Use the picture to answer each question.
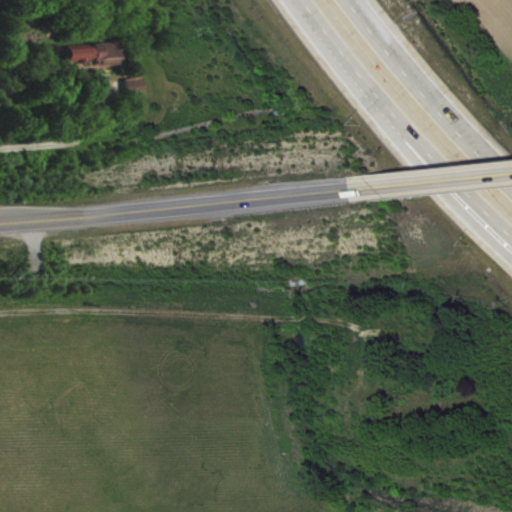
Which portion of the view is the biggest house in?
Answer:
top left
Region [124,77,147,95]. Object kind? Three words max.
building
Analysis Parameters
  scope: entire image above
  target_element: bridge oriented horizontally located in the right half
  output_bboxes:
[348,161,512,202]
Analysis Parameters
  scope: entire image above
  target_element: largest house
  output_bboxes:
[70,42,123,72]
